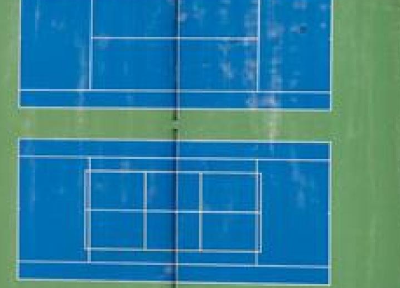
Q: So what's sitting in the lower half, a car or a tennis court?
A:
tennis court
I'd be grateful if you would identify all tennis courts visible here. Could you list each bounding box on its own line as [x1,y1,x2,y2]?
[17,138,331,286]
[19,0,334,111]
